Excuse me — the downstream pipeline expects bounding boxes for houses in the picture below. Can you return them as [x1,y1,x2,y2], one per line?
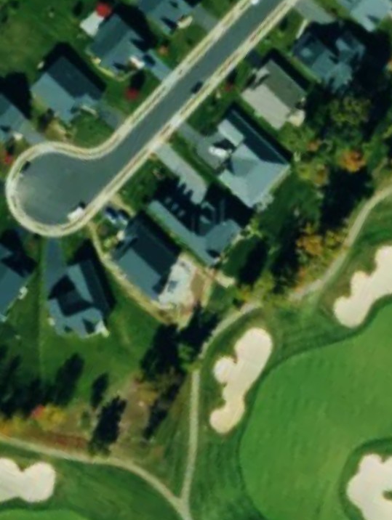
[241,61,310,133]
[0,93,33,152]
[144,187,249,271]
[86,14,151,77]
[211,111,298,212]
[30,56,102,129]
[0,245,39,322]
[109,218,186,295]
[135,0,200,36]
[289,19,366,91]
[340,0,392,30]
[44,258,115,342]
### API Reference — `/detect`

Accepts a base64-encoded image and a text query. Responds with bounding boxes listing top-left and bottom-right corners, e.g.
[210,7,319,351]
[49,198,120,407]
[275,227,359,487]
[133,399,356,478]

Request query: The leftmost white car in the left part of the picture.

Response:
[69,204,84,218]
